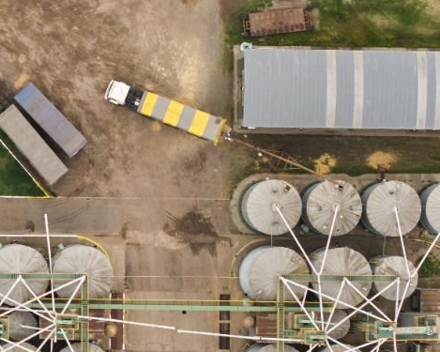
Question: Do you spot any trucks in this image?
Yes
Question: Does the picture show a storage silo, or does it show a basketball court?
storage silo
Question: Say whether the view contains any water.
No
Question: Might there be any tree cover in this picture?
No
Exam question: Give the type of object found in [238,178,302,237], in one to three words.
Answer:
silo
